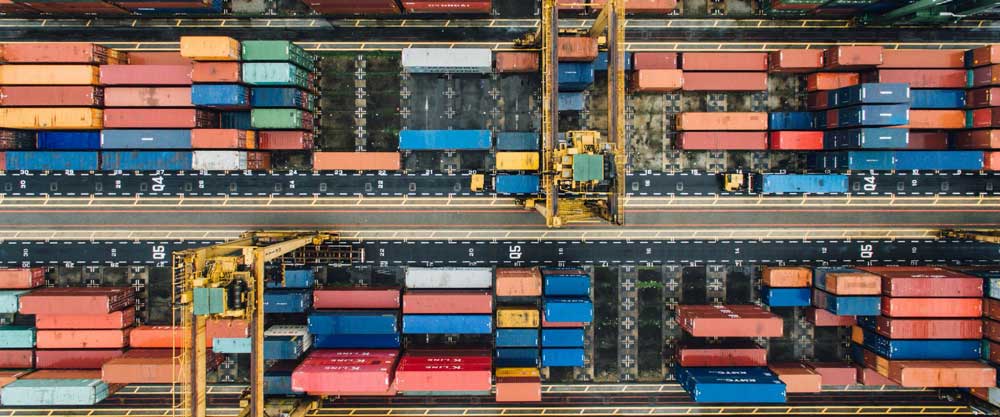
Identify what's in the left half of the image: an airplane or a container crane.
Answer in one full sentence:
What appears in the left half of the image is a container crane.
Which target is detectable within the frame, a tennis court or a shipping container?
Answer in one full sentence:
The image shows a shipping container.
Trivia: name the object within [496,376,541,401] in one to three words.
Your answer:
shipping container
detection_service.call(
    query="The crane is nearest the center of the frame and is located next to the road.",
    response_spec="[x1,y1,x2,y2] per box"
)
[509,0,622,229]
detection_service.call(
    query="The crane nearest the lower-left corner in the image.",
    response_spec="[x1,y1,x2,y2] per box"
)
[173,229,349,417]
